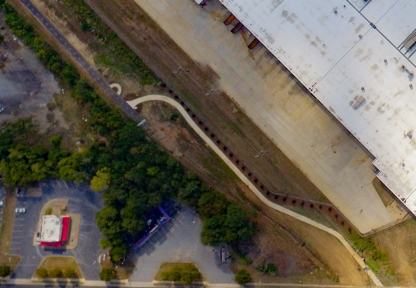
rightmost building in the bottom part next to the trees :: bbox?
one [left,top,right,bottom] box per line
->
[132,204,172,250]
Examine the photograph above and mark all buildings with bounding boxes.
[197,0,416,217]
[132,204,172,250]
[39,214,70,247]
